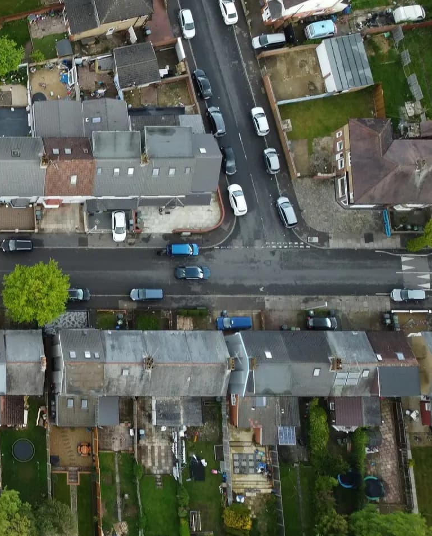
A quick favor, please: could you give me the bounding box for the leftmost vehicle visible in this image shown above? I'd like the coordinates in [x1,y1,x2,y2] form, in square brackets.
[1,237,33,253]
